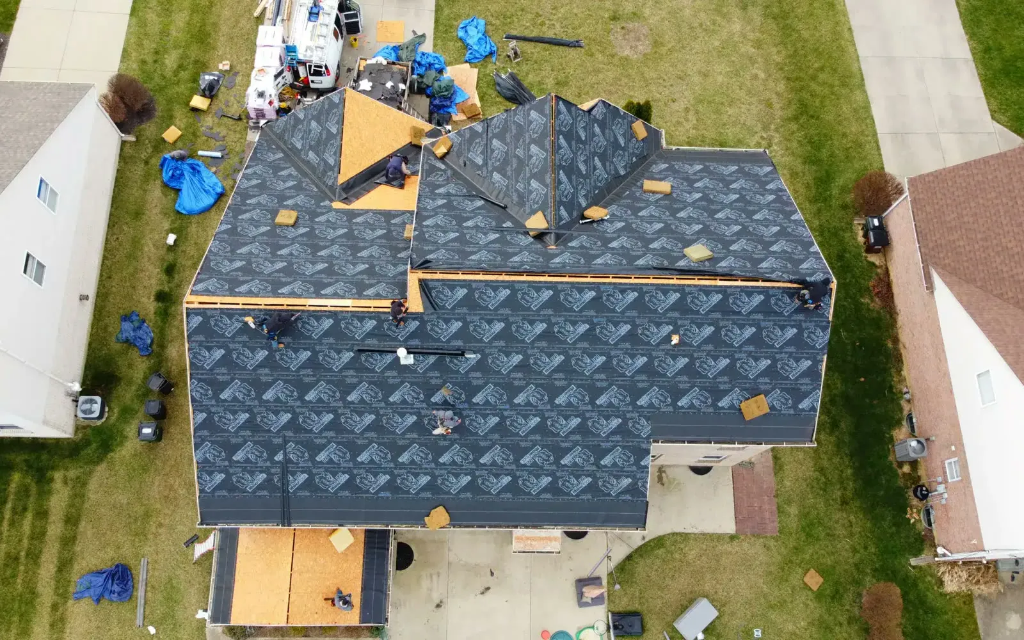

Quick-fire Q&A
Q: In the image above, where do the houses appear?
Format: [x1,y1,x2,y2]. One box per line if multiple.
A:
[0,82,125,440]
[185,89,835,553]
[883,144,1024,558]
